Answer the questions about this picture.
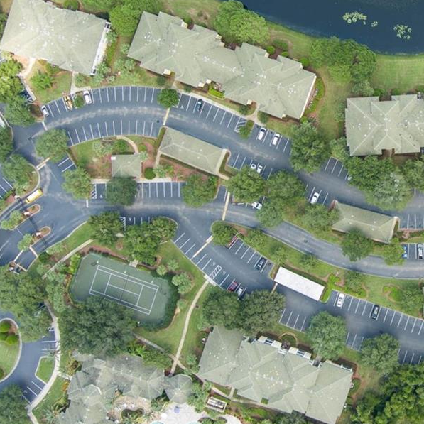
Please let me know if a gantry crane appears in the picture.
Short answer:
No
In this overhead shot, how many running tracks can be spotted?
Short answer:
0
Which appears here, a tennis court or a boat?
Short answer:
tennis court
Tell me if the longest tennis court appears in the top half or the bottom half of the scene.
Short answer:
bottom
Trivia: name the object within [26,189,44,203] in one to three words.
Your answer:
vehicle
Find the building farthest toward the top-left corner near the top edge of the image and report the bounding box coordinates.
[0,0,112,73]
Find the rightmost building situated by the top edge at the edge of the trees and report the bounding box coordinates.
[128,11,316,119]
